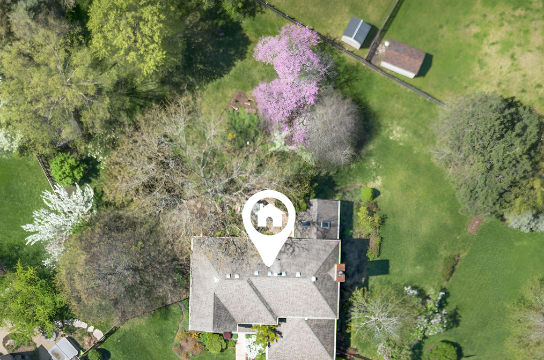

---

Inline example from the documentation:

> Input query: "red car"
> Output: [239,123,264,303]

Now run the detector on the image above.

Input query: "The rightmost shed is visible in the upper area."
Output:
[378,39,425,79]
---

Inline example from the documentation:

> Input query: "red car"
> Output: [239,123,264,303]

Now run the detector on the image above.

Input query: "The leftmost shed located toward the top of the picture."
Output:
[342,16,371,49]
